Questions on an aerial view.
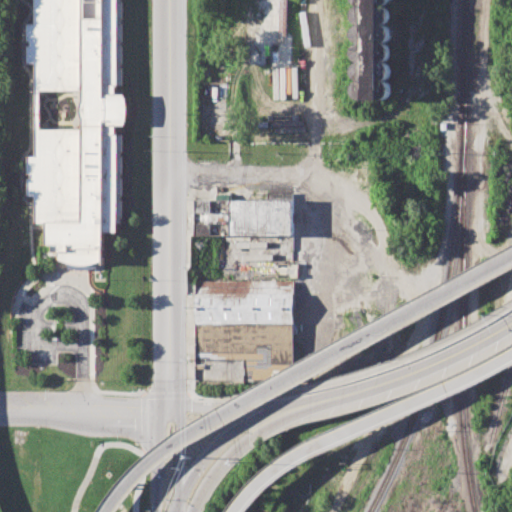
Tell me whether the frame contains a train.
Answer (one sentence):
No, I can see no train in this picture.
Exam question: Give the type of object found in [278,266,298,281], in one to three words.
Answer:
shed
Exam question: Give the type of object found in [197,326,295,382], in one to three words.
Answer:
building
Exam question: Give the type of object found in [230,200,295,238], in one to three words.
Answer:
building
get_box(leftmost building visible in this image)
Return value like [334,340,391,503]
[26,0,129,274]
